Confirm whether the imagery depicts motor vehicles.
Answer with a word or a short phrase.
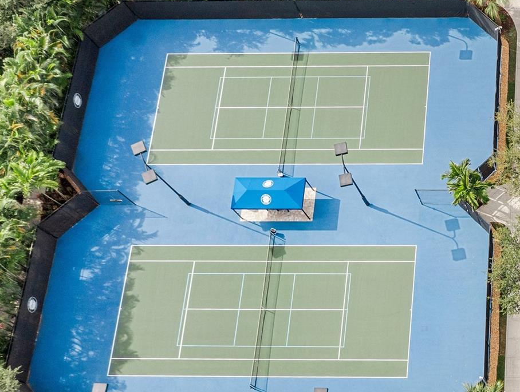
No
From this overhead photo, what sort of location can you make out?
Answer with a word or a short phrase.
sports ground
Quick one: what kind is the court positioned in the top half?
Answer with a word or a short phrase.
tennis court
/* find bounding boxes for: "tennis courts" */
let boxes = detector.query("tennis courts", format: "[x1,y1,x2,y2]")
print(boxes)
[147,51,431,165]
[108,246,416,377]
